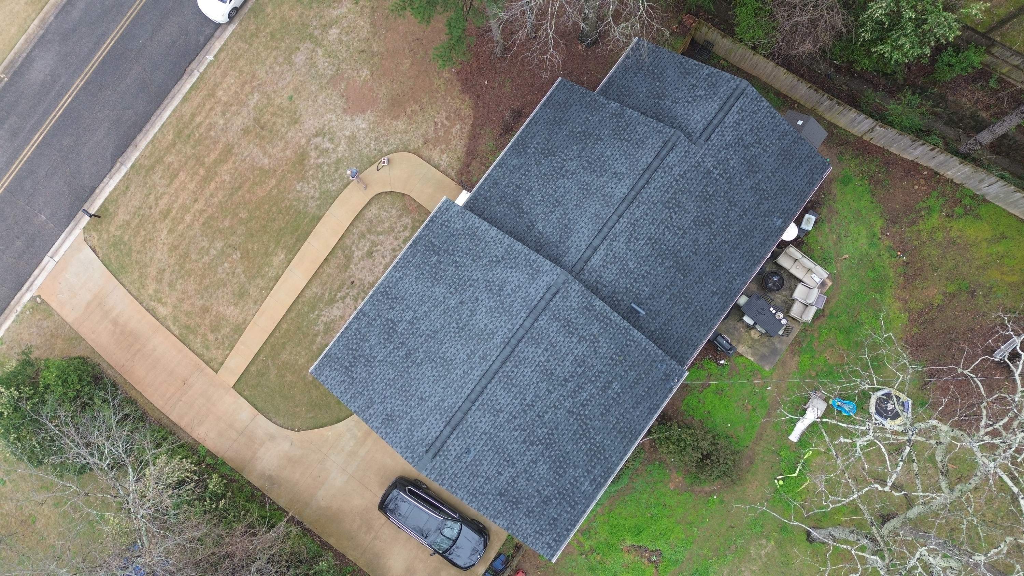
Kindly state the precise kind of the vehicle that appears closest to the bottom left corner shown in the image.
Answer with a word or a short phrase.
automobile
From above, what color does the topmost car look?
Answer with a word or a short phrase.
white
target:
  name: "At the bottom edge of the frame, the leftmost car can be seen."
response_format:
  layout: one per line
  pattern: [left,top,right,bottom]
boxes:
[377,475,490,569]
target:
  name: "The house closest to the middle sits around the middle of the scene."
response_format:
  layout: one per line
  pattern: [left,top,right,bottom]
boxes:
[307,35,834,564]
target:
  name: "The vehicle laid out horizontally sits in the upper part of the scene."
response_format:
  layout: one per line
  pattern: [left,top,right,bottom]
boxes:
[194,0,247,23]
